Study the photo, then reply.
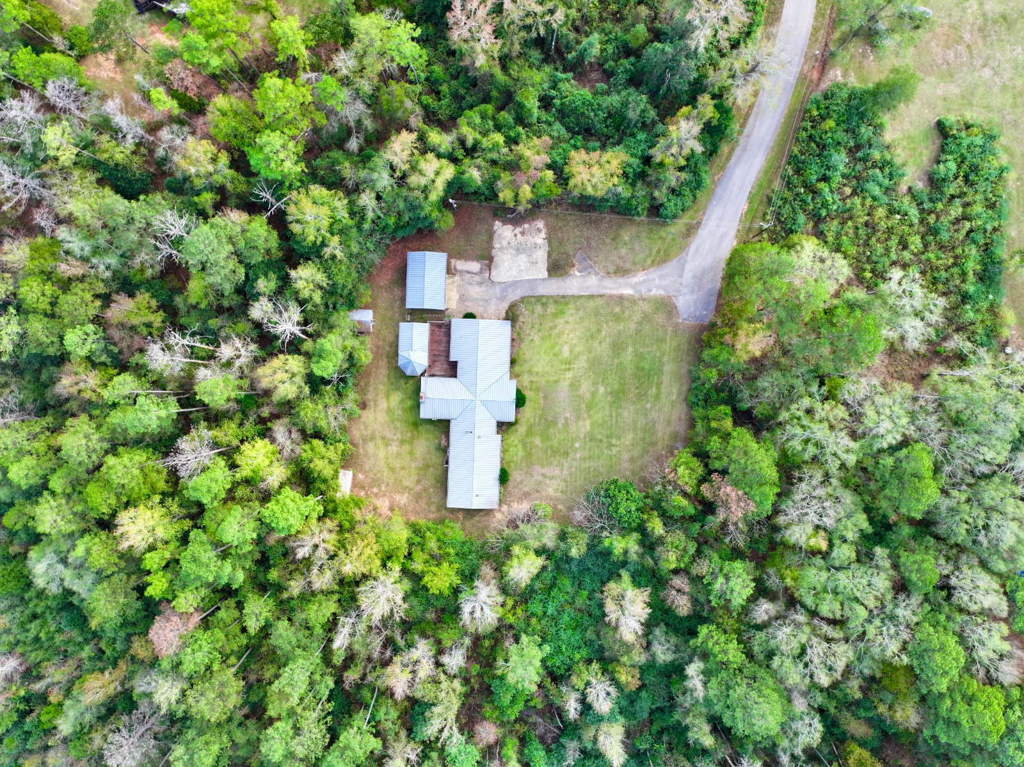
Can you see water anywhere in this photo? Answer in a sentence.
No, water can't be seen anywhere here.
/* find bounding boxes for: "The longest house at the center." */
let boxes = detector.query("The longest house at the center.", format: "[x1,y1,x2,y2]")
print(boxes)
[419,318,517,509]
